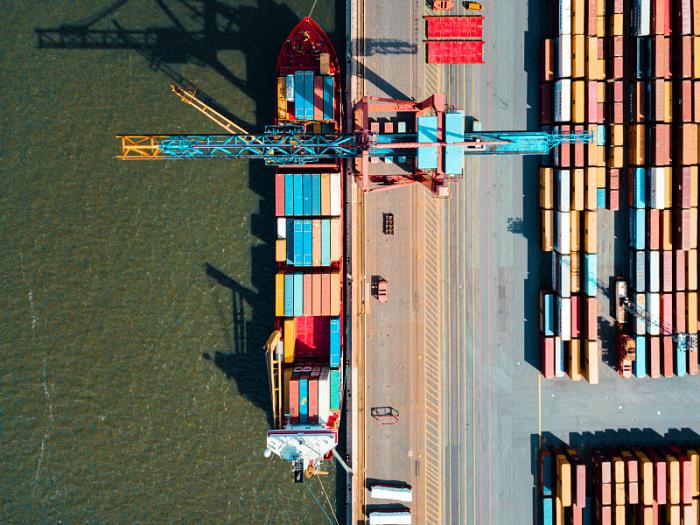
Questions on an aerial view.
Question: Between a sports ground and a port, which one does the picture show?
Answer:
port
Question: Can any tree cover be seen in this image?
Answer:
No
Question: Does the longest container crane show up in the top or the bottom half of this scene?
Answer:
top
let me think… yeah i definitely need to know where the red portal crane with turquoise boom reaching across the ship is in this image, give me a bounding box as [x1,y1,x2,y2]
[111,94,597,204]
